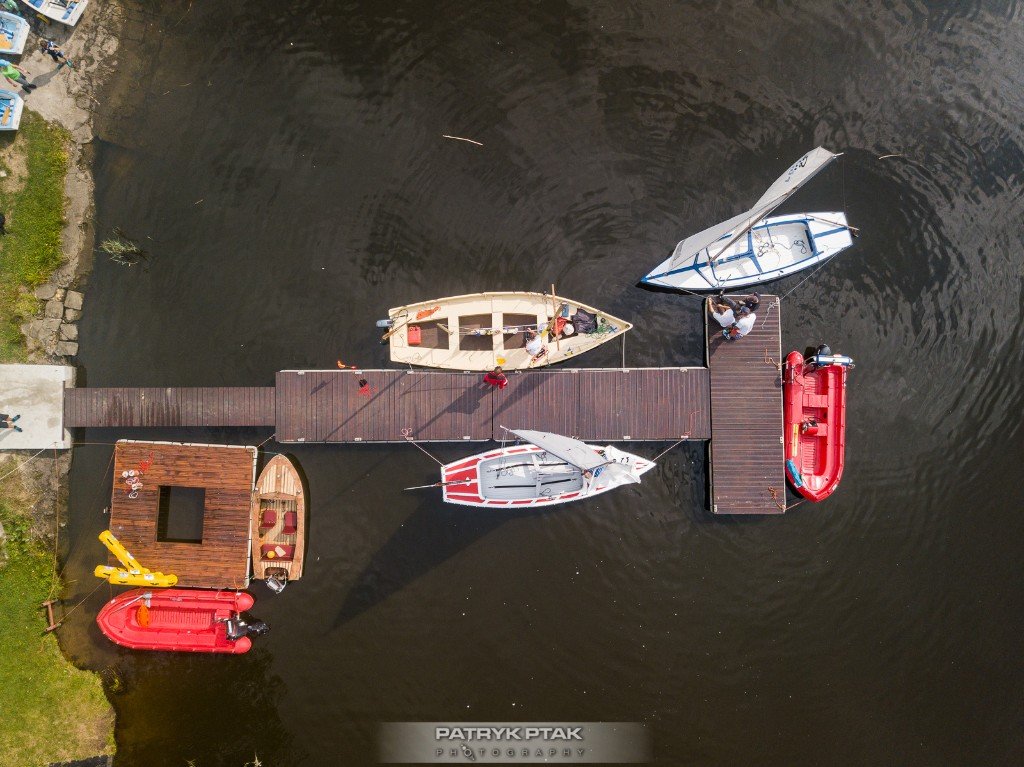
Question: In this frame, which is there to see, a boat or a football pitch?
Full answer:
The one in the frame is a boat.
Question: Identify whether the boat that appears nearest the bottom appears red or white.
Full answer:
The boat that appears nearest the bottom is red.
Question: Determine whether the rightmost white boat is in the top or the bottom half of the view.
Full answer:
The rightmost white boat is in the top half of the image.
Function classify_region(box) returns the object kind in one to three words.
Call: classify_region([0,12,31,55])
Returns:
boat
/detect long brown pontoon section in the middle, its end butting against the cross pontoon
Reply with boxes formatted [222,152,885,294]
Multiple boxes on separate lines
[494,365,709,444]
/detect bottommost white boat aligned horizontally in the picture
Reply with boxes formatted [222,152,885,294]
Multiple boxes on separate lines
[404,427,657,508]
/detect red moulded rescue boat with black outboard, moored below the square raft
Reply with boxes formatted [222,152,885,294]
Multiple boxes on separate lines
[97,586,273,651]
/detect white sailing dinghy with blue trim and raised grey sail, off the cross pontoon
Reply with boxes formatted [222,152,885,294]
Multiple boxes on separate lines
[639,146,859,293]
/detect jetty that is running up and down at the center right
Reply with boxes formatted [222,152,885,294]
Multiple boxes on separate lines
[704,293,787,516]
